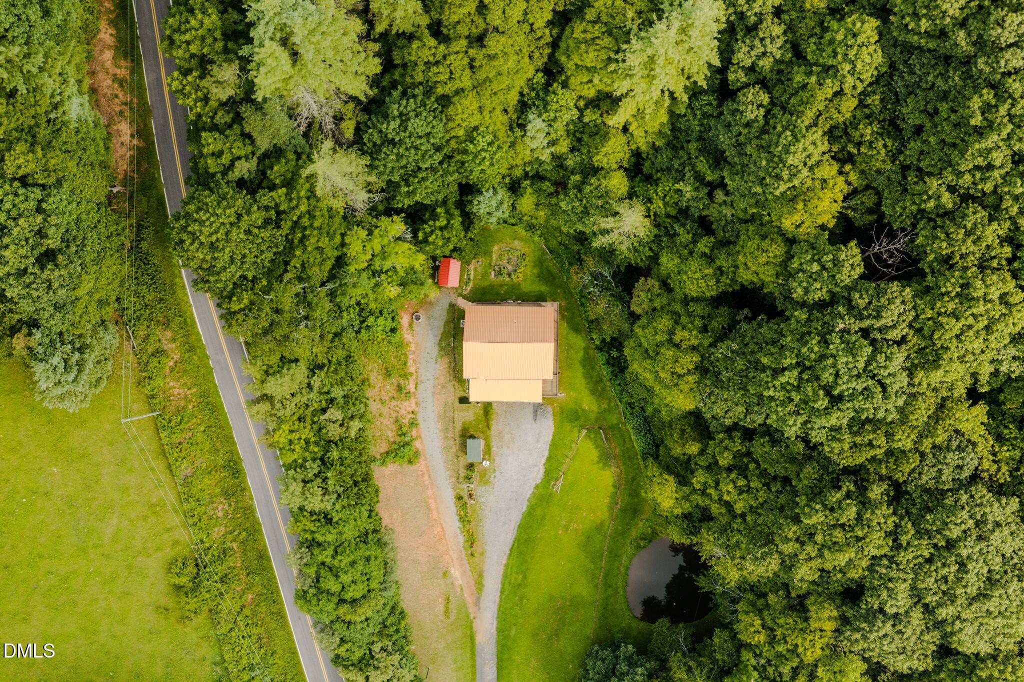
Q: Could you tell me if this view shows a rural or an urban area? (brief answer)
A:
rural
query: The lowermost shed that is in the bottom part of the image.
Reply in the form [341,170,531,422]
[468,439,486,462]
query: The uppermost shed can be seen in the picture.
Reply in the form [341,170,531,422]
[437,257,461,288]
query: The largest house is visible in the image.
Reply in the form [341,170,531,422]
[463,304,554,402]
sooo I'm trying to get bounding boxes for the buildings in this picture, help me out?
[437,257,461,288]
[463,304,554,402]
[468,439,486,462]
